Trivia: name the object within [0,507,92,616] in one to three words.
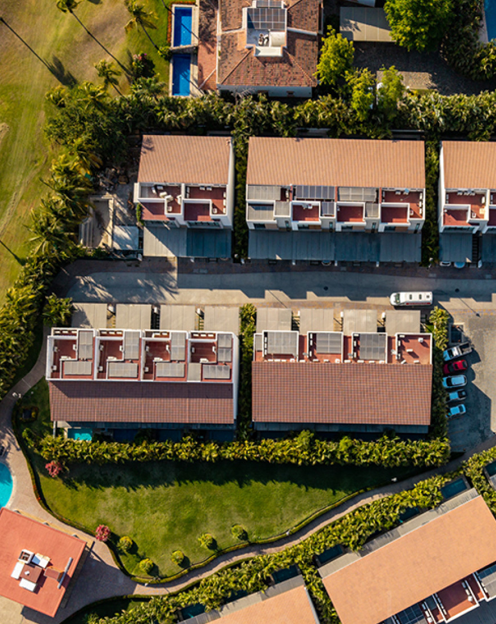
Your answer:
building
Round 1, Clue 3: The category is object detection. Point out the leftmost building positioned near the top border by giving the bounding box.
[216,0,320,102]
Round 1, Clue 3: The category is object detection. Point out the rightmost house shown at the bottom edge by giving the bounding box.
[319,488,496,624]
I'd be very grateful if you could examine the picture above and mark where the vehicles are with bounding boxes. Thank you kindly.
[442,359,468,374]
[392,292,432,306]
[442,375,467,387]
[440,241,451,267]
[448,388,471,402]
[443,342,472,358]
[453,262,464,267]
[444,403,469,418]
